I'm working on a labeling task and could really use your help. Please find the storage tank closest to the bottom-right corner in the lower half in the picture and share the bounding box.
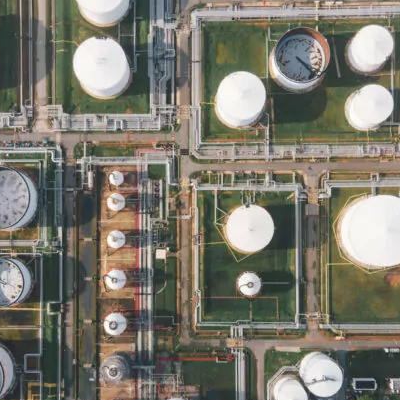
[297,351,346,398]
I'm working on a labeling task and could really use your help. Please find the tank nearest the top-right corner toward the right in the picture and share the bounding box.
[341,23,394,79]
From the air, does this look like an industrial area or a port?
industrial area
